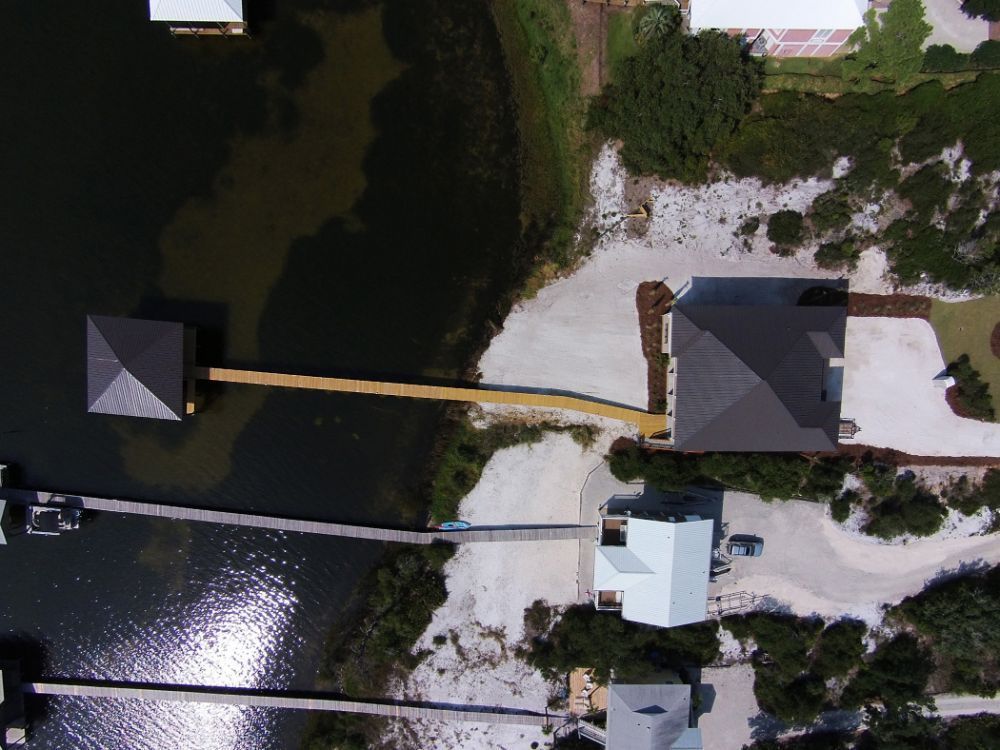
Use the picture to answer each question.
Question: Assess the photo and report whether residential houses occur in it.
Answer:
Yes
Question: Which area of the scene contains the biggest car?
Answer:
bottom right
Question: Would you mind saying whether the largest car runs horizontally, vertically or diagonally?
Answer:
horizontally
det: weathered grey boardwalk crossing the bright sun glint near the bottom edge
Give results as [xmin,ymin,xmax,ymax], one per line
[27,680,575,729]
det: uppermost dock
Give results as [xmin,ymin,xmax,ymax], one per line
[192,367,639,430]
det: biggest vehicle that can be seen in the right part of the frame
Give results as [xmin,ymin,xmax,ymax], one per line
[727,541,764,561]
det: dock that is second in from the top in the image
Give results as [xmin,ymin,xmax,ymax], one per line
[0,488,595,545]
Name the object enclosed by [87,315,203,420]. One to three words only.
building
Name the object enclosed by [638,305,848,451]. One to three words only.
house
